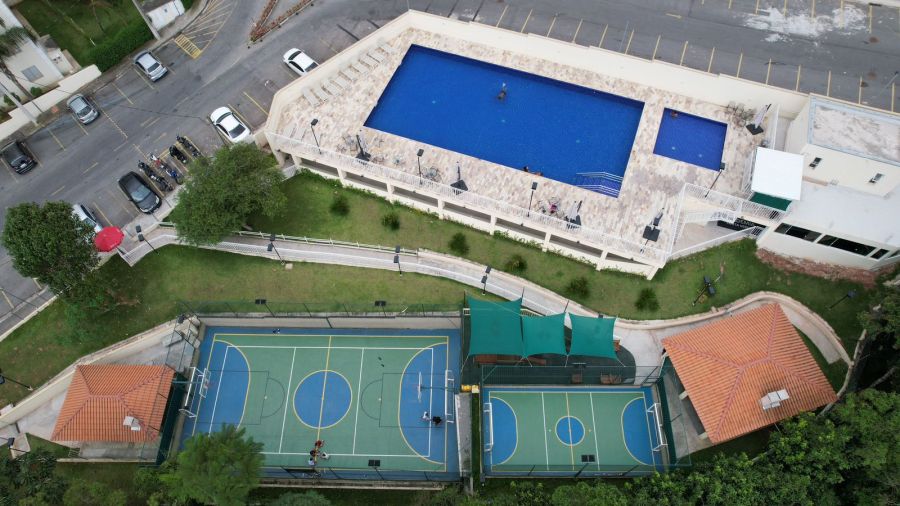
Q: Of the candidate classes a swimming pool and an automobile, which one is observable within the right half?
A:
swimming pool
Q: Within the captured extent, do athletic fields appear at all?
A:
Yes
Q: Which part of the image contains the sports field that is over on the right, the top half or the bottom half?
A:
bottom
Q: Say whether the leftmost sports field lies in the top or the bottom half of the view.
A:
bottom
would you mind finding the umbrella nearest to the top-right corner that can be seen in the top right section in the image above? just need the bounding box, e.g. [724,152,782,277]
[746,103,771,136]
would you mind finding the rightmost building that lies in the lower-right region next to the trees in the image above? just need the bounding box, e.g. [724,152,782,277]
[658,302,840,445]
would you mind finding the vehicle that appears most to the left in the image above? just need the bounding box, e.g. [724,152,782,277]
[0,141,43,178]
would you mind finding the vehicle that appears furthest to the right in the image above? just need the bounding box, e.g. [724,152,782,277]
[280,47,322,77]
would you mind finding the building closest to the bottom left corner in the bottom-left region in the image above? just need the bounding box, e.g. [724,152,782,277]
[49,363,182,446]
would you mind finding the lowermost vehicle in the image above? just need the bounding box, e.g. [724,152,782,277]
[63,198,111,236]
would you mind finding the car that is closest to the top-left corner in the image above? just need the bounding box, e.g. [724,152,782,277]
[64,94,105,126]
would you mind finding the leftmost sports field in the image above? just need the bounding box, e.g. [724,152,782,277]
[214,335,447,470]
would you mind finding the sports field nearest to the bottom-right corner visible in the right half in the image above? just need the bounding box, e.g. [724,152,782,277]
[490,392,655,471]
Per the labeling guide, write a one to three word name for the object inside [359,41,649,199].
swimming pool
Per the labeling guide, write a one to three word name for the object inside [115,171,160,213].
car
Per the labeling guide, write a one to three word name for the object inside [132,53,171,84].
car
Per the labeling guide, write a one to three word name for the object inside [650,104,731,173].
swimming pool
